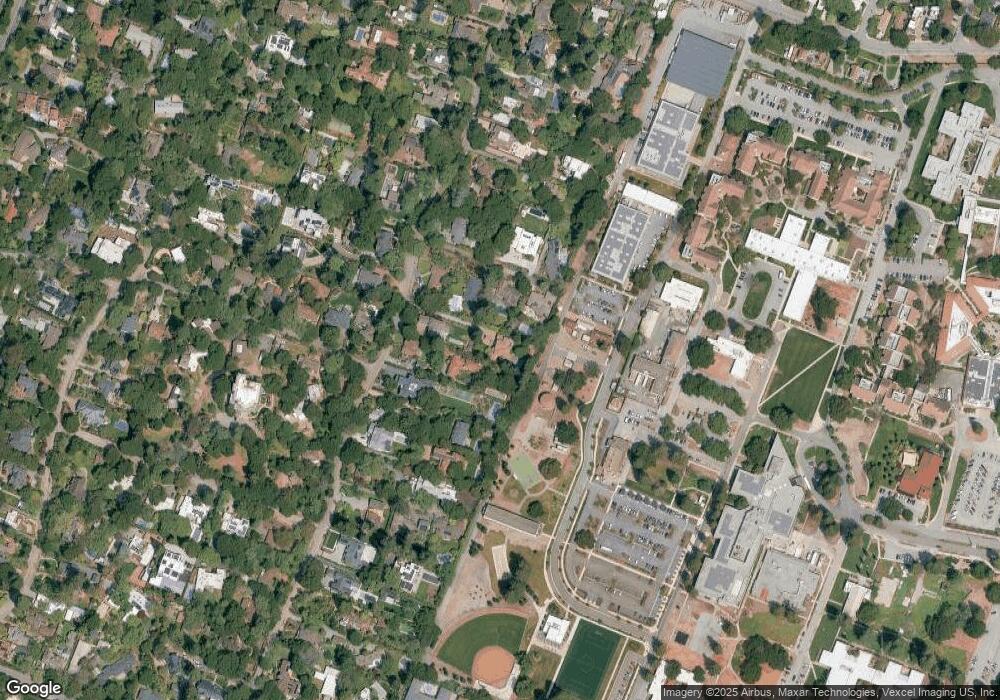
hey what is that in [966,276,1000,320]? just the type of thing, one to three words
building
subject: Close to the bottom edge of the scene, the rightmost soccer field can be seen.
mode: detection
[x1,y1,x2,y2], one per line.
[551,618,620,700]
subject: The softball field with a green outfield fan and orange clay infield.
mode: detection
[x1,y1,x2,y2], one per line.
[432,606,536,700]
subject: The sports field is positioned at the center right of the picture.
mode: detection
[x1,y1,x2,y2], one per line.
[759,329,838,423]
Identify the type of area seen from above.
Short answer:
residential area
